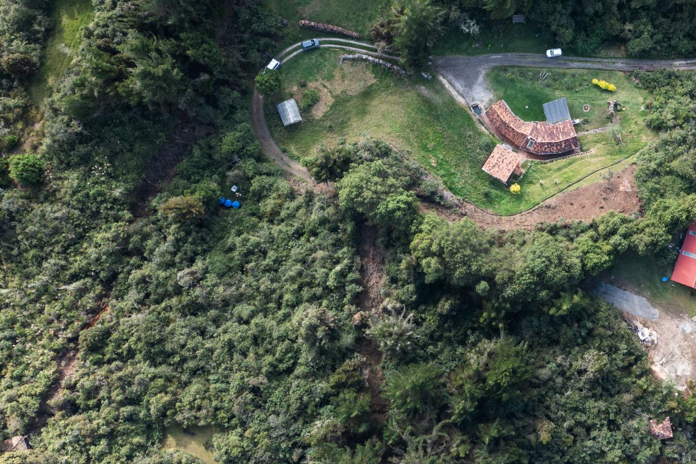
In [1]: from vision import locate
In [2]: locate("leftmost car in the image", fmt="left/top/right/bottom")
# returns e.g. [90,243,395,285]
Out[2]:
[264,57,280,72]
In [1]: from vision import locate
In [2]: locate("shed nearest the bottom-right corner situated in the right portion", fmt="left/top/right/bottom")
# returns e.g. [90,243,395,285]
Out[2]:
[650,416,673,439]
